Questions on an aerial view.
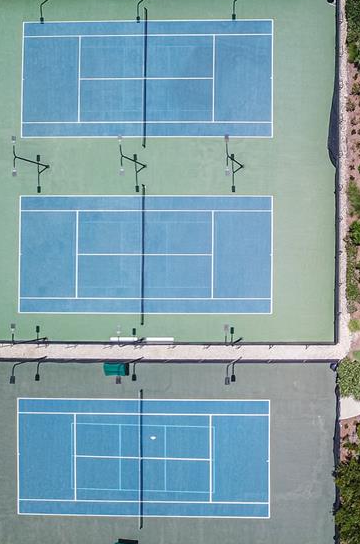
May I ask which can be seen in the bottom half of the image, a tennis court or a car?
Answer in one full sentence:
Visible in the bottom half of the image is a tennis court.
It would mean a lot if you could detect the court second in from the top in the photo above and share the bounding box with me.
[18,196,273,314]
